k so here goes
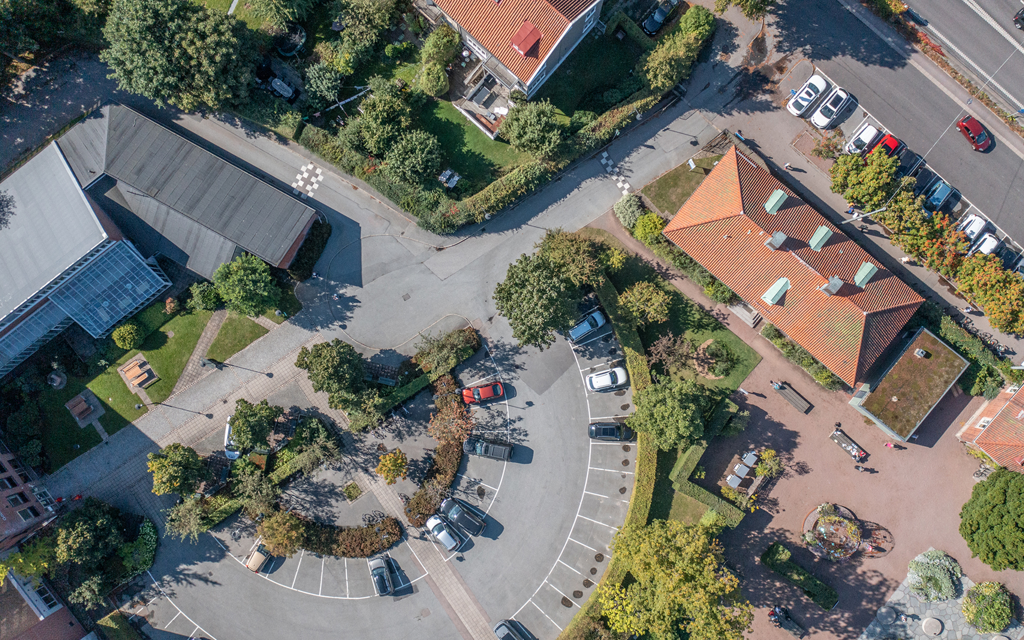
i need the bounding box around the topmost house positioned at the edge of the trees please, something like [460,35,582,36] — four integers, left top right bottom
[413,0,608,96]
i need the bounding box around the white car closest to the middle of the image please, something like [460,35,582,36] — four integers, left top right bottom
[585,367,629,390]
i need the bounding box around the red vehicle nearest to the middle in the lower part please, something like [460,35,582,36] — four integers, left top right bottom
[462,381,505,403]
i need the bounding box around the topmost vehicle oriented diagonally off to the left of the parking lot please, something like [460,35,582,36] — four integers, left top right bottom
[642,0,680,36]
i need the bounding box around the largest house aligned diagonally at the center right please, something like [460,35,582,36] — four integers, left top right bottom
[663,145,925,388]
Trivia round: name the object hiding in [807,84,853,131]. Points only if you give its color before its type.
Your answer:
white car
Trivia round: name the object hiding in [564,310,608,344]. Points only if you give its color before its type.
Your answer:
blue car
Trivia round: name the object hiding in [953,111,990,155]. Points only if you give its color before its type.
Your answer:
red car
